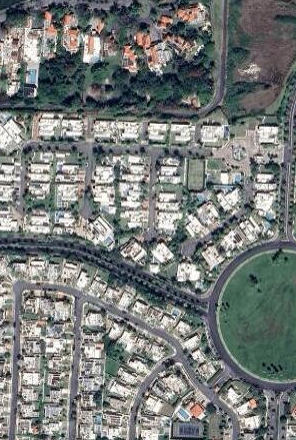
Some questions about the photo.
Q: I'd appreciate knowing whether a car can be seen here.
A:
No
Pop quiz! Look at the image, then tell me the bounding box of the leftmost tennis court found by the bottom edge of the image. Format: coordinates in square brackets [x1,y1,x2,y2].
[173,421,205,440]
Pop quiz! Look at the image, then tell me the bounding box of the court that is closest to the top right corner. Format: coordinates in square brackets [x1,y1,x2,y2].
[188,159,204,190]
